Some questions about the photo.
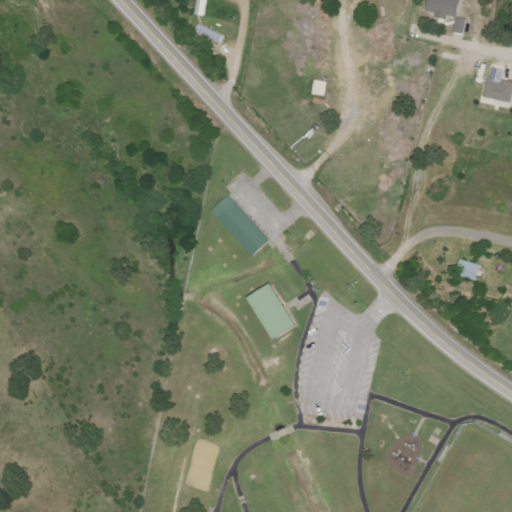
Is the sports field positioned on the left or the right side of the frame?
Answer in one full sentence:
You can find the sports field on the right side of the picture.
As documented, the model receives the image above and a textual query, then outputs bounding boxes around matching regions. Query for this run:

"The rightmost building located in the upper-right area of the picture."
[484,66,512,102]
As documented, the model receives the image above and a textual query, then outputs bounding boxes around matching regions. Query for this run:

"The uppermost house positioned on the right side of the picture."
[426,0,466,34]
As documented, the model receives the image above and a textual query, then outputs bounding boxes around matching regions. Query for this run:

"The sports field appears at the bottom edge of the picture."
[414,424,512,512]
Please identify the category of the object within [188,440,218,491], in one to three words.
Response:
sports court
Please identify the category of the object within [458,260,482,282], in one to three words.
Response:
house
